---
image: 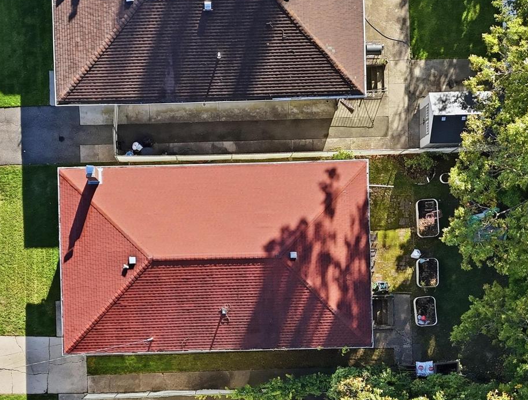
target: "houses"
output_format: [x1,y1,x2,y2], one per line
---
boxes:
[55,156,375,357]
[50,0,369,108]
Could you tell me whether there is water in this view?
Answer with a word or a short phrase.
No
